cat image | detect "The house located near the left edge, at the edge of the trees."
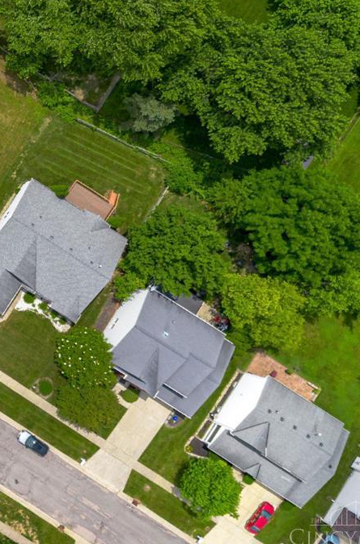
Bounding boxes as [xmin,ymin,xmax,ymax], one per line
[0,179,127,324]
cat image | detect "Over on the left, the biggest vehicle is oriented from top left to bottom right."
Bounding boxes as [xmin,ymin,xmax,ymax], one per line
[14,429,51,459]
